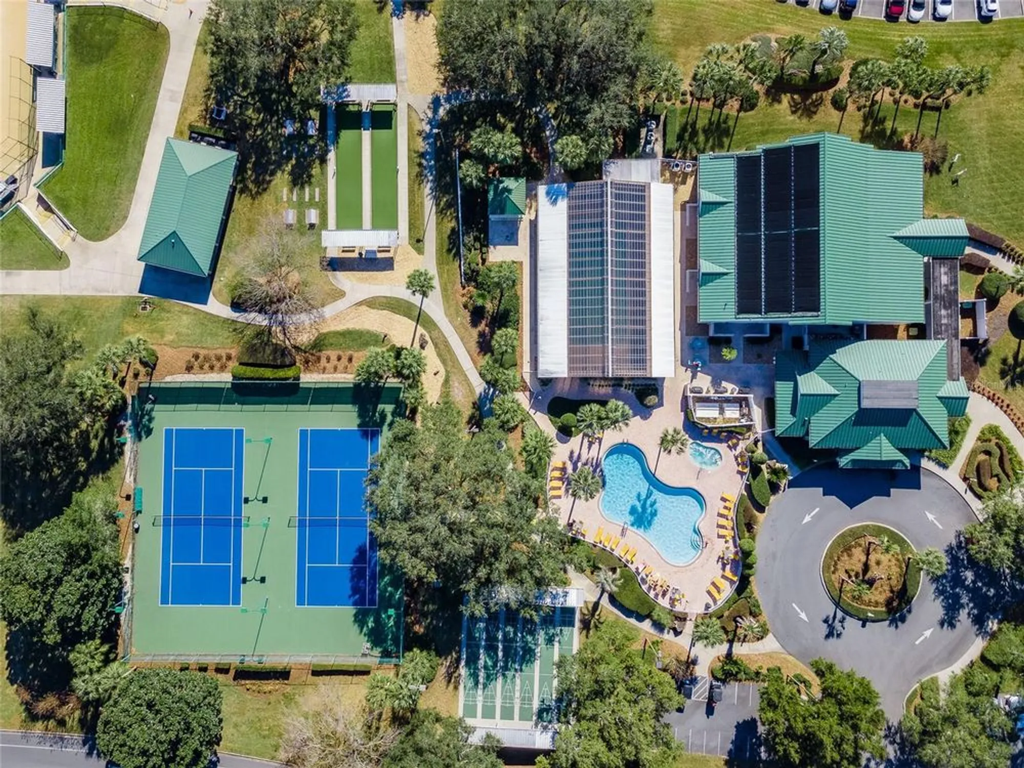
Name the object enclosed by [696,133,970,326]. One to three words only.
building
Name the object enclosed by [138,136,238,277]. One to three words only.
building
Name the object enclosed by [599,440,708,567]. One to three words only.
swimming pool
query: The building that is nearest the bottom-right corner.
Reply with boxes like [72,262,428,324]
[769,339,969,468]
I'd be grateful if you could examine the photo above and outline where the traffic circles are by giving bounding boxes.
[757,460,984,768]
